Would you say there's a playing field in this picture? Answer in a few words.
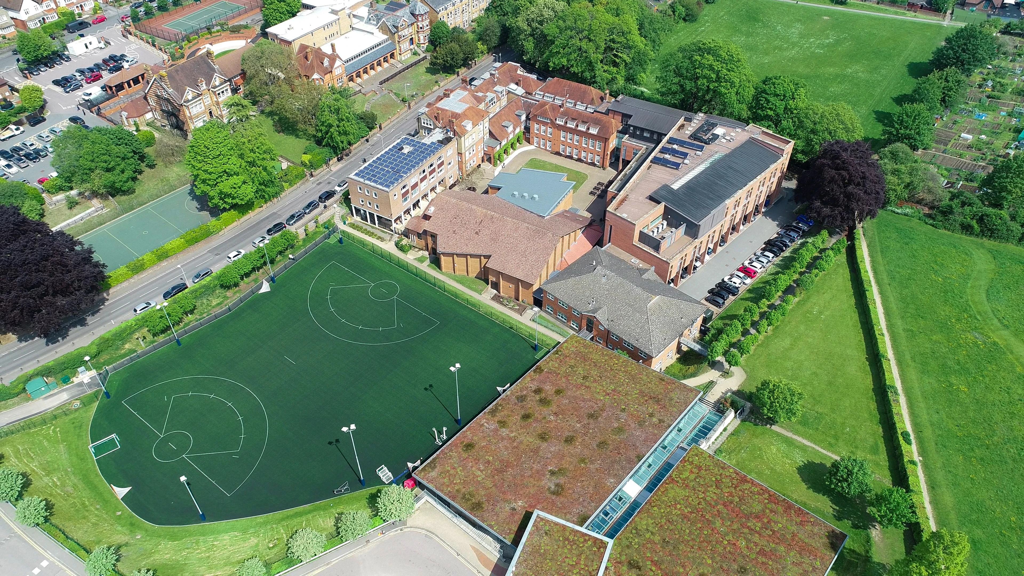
Yes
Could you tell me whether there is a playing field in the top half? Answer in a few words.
Yes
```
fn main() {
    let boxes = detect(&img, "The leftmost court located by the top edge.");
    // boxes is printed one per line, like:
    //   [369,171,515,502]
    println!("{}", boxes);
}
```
[134,0,259,40]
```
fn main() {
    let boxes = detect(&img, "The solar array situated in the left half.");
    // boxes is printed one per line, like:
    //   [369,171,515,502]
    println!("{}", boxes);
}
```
[351,136,446,188]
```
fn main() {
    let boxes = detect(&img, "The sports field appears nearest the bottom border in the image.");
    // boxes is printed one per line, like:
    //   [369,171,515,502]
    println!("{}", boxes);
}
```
[89,230,549,526]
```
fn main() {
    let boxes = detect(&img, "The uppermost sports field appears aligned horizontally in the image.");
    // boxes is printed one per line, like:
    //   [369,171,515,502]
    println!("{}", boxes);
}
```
[631,0,954,153]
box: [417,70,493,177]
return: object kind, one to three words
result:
building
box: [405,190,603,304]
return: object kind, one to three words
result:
building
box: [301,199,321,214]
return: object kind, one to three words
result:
car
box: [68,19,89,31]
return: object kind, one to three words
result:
vehicle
